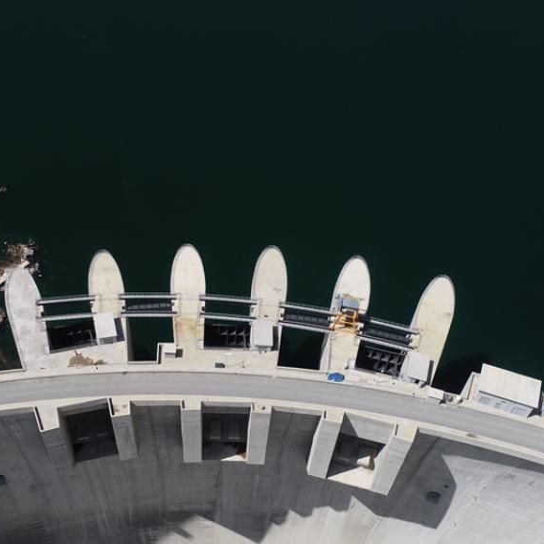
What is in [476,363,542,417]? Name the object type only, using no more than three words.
building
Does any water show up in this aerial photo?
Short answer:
Yes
